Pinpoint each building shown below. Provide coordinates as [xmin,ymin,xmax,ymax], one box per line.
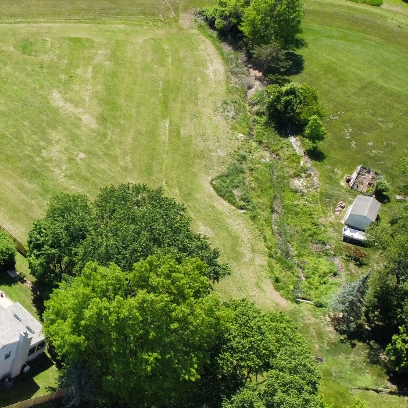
[0,302,46,381]
[328,191,378,229]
